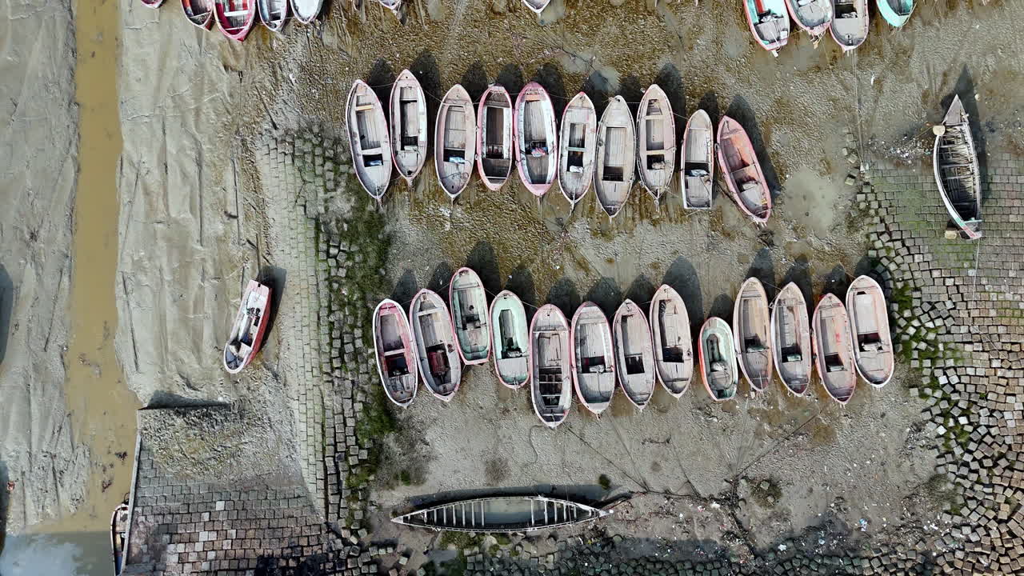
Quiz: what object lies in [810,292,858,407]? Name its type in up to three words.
boat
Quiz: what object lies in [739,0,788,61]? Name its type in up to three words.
boat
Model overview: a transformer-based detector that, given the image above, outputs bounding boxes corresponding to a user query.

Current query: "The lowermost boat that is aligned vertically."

[107,500,128,576]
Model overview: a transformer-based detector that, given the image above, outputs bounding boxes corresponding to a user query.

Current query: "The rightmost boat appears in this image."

[936,94,987,234]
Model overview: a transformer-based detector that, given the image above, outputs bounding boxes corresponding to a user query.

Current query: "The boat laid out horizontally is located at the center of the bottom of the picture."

[393,493,609,535]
